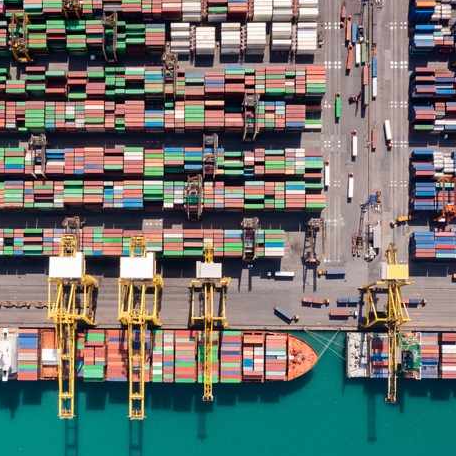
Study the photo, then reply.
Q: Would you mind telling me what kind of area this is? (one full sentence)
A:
The area seen from above is a port.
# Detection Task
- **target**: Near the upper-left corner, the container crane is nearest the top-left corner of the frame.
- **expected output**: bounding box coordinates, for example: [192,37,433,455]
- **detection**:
[12,10,35,62]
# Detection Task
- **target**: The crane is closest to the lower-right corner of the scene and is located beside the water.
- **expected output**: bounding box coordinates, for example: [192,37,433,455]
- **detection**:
[353,245,411,402]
